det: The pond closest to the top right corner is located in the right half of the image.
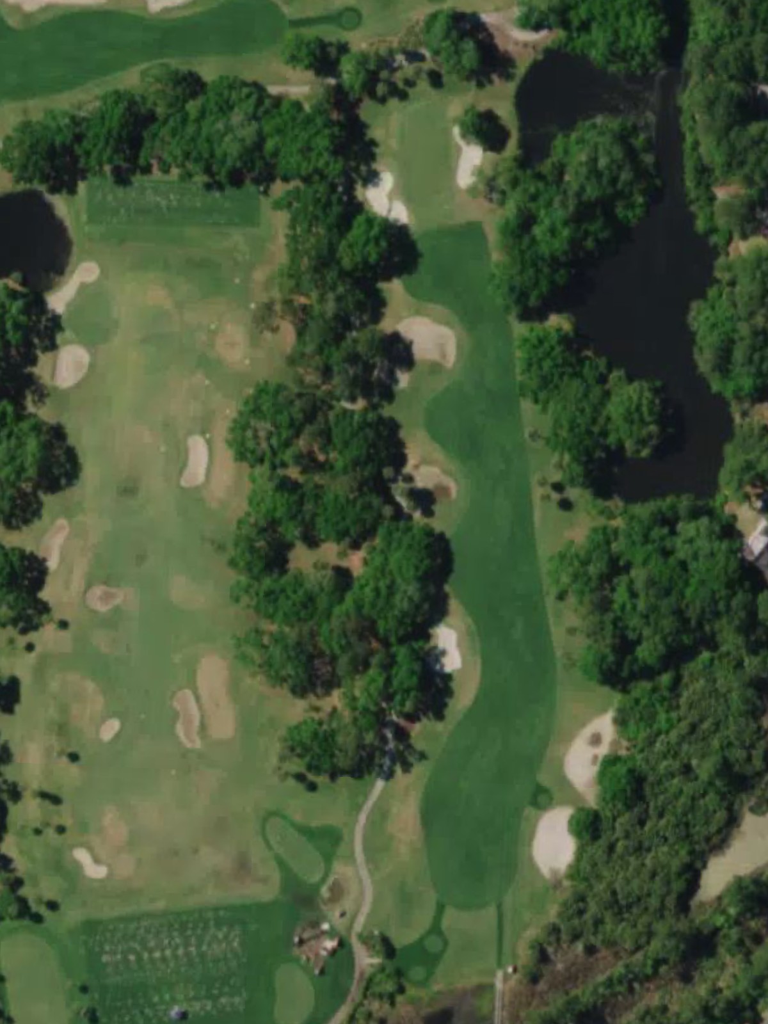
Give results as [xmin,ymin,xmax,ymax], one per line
[515,0,735,505]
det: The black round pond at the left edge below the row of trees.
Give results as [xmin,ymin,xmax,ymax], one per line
[0,189,72,298]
